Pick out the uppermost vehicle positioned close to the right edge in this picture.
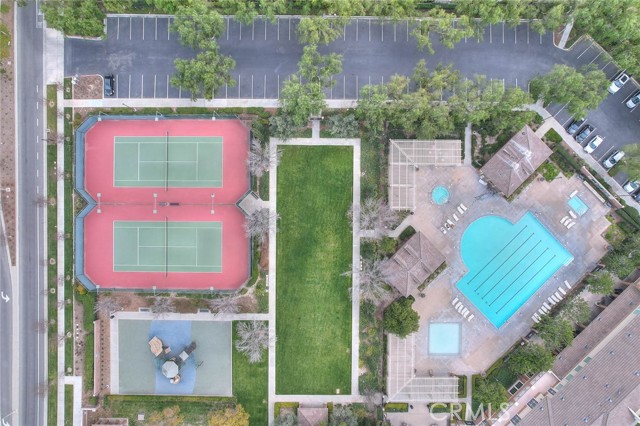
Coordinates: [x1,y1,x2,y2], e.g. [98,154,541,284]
[608,71,632,95]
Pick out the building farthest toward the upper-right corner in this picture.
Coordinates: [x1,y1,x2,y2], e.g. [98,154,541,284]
[478,125,554,197]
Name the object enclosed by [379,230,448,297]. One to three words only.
building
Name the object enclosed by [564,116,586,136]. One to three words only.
car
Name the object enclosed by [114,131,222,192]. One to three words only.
tennis court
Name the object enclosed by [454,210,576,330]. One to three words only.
swimming pool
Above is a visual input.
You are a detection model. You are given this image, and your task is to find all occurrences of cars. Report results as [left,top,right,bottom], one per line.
[602,150,625,171]
[574,122,596,144]
[626,92,640,112]
[104,74,116,97]
[564,116,586,136]
[631,191,640,206]
[583,135,605,156]
[608,71,632,95]
[622,176,640,196]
